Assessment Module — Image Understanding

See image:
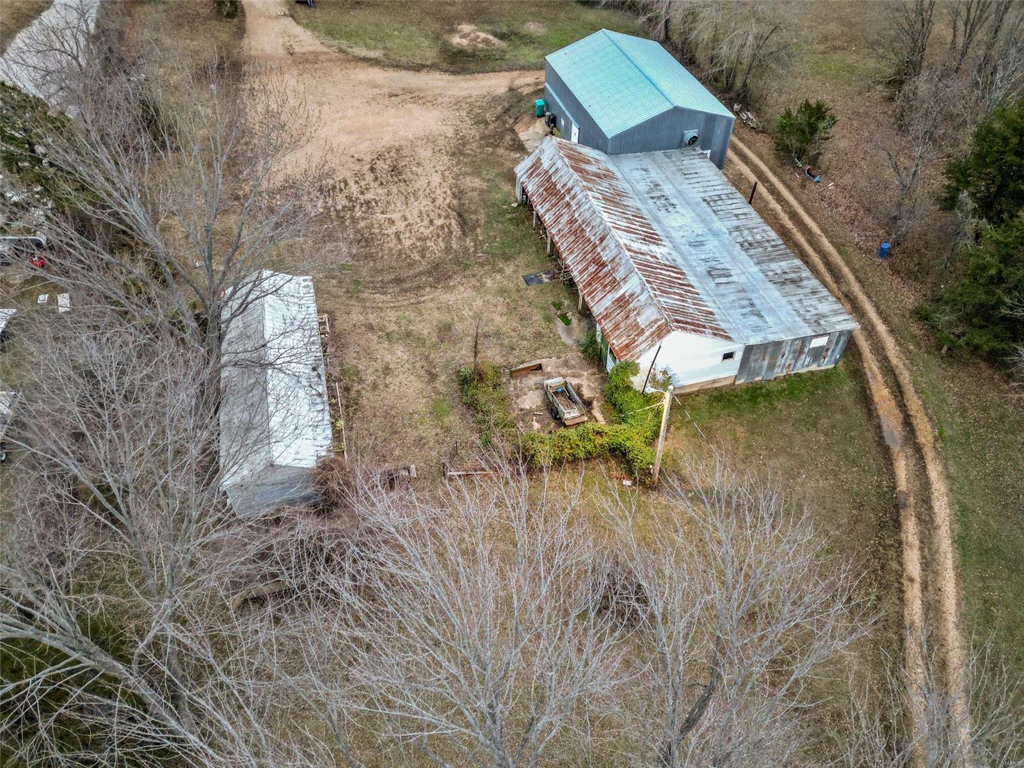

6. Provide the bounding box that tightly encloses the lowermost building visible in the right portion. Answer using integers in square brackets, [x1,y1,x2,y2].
[517,136,860,409]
